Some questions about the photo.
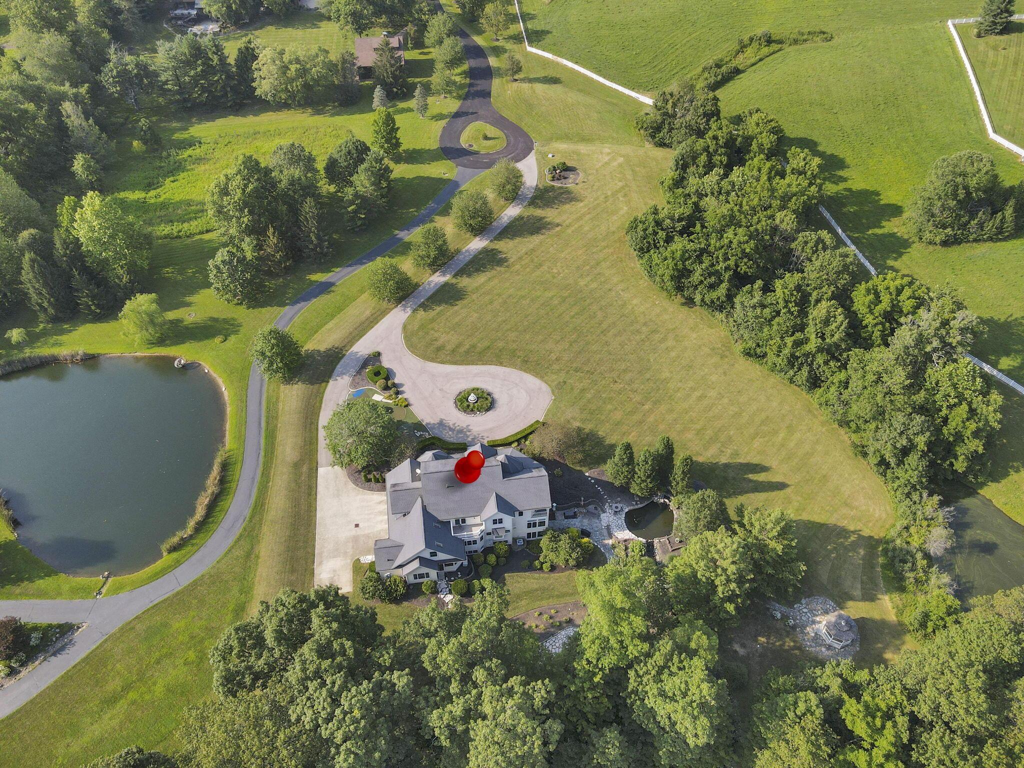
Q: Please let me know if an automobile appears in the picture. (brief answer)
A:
No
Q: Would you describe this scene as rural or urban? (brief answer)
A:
rural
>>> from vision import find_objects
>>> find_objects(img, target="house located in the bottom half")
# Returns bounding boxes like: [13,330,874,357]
[374,442,552,584]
